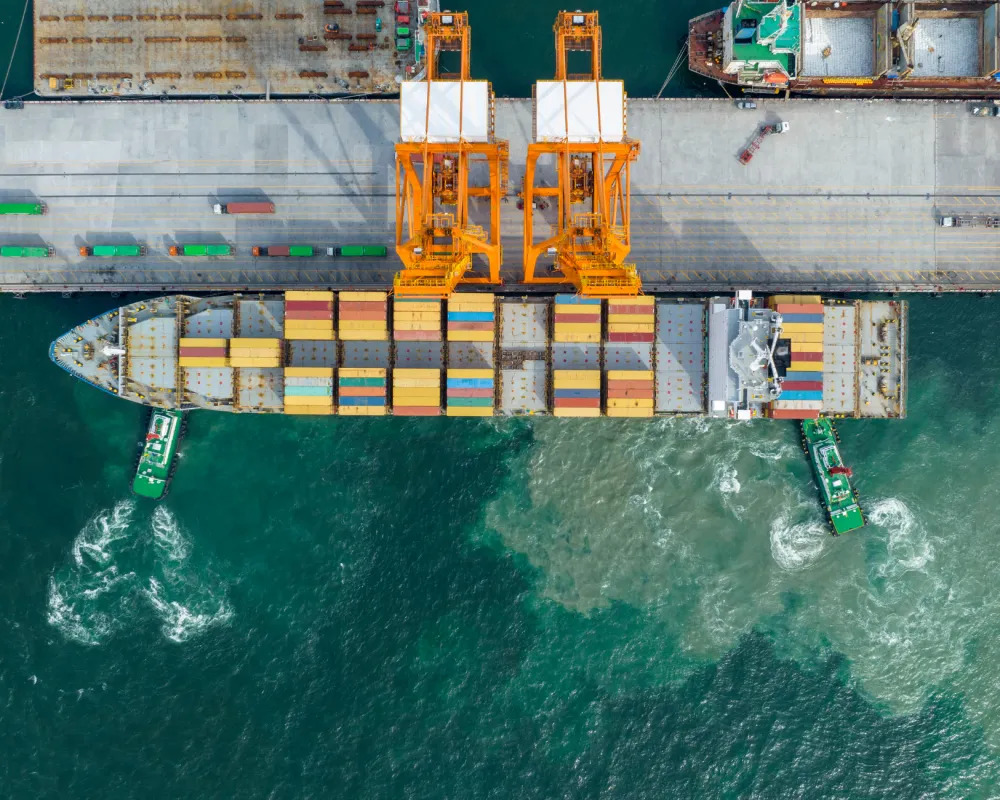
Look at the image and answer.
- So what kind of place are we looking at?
port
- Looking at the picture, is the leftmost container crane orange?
Yes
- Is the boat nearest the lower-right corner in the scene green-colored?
Yes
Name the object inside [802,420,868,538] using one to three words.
boat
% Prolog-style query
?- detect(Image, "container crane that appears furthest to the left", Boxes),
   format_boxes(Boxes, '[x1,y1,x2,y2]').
[383,10,510,308]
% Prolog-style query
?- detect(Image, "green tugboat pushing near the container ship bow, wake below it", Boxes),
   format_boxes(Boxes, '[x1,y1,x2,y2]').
[129,408,183,504]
